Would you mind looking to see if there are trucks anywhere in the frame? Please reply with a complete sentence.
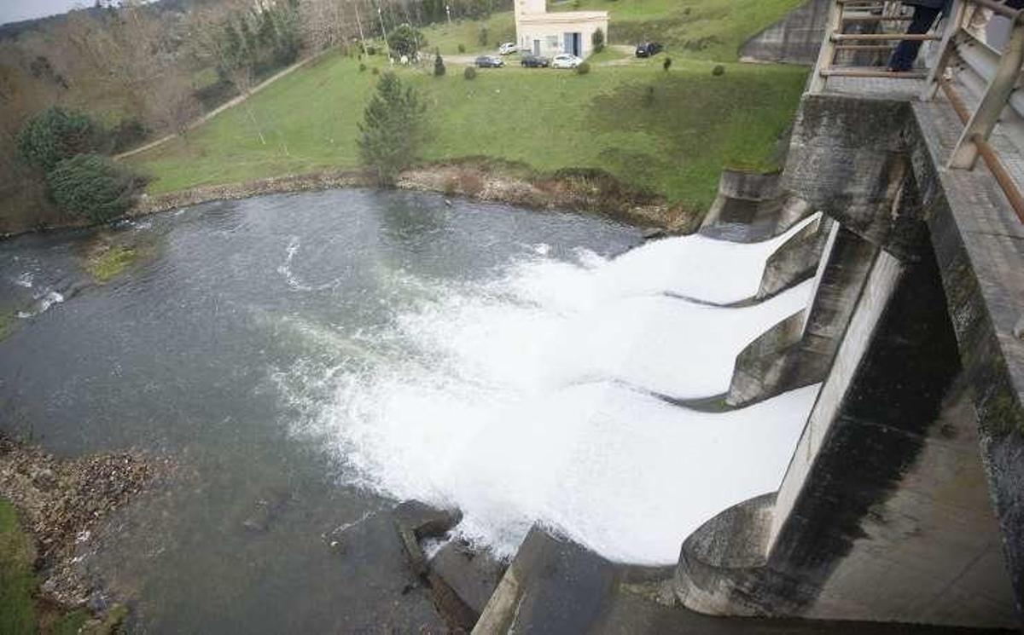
No, the photo shows no truck.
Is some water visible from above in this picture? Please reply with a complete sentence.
Yes, some water is visible.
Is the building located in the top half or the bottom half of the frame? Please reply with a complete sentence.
You can find the building in the top half.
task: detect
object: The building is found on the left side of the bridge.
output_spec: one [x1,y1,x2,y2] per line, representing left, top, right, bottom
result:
[510,0,618,59]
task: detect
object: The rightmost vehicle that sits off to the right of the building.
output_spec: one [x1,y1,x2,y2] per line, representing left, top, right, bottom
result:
[634,39,666,57]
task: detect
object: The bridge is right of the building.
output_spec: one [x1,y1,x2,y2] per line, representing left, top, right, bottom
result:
[782,3,1024,635]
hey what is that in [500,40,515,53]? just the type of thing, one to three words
vehicle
